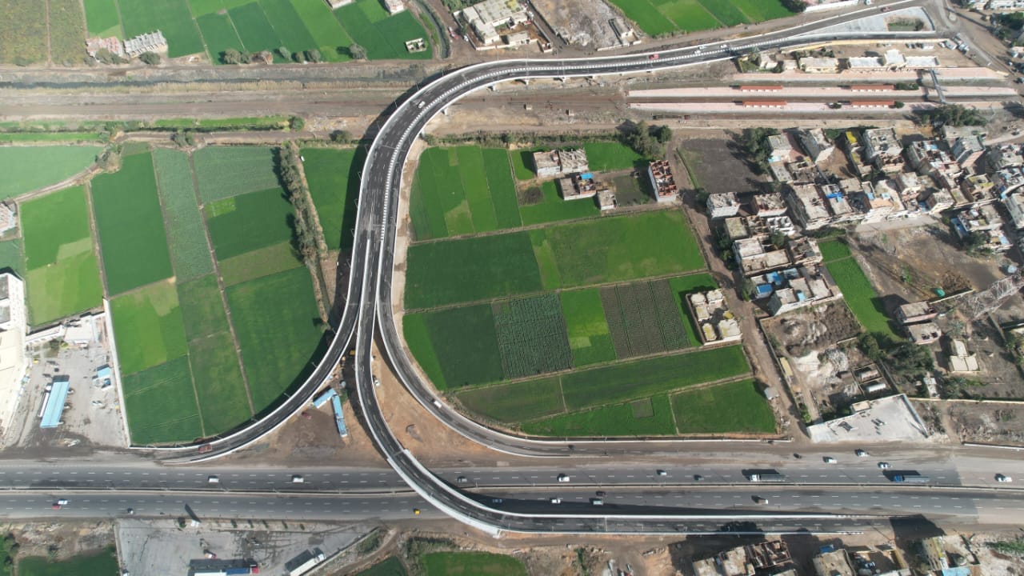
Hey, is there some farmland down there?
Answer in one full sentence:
Yes, farmland shows up in the scene.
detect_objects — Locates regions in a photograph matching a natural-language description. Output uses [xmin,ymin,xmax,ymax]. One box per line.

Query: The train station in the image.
[629,68,1018,113]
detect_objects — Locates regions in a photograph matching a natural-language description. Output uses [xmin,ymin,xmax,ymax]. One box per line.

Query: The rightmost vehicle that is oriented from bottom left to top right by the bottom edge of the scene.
[289,551,325,576]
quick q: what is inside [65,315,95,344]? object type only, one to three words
building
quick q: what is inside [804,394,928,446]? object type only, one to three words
building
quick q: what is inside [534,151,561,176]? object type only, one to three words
house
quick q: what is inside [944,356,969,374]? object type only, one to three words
house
